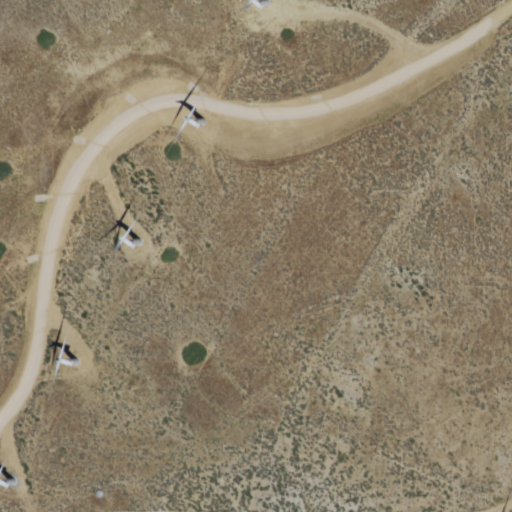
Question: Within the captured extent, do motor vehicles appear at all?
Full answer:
No, there appears to be no motor vehicle in this shot.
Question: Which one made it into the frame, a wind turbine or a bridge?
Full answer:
This aerial view contains a wind turbine.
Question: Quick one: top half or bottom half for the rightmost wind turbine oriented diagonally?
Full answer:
It is in the top half that the rightmost wind turbine oriented diagonally appears.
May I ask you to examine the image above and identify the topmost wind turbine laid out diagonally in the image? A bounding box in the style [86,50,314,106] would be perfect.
[173,87,208,144]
